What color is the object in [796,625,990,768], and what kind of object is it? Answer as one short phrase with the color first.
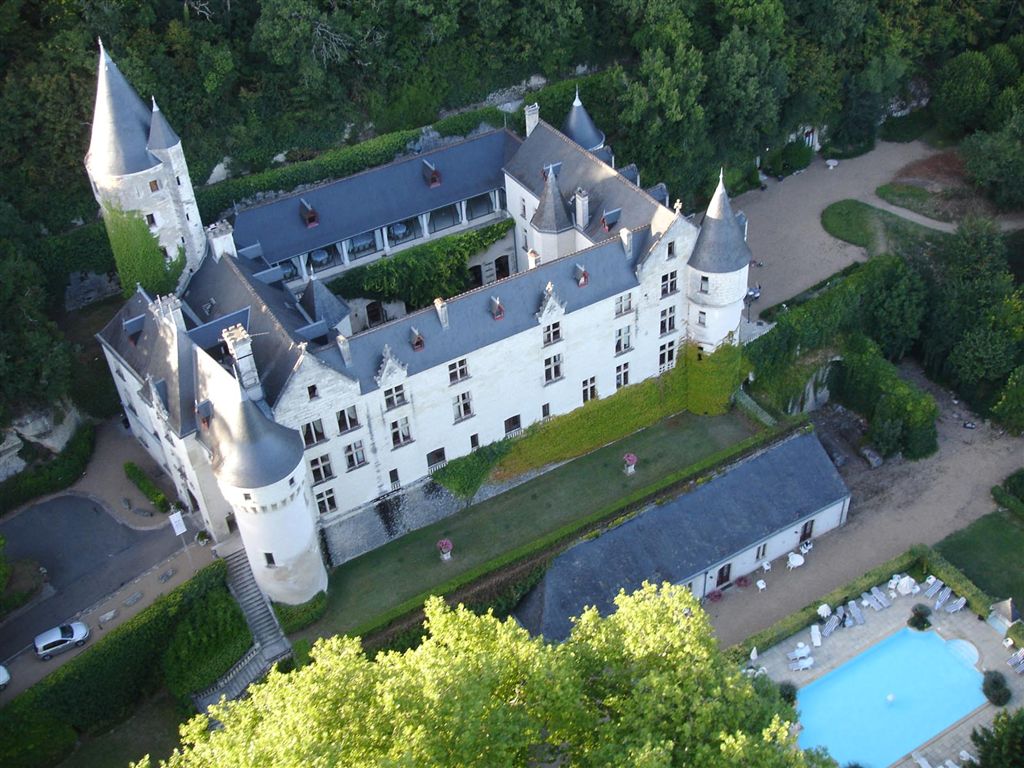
blue swimming pool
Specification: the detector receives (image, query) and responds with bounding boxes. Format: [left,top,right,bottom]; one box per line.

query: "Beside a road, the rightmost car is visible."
[29,621,90,659]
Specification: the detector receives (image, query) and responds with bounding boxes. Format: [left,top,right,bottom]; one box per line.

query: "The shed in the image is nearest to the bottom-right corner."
[991,595,1024,625]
